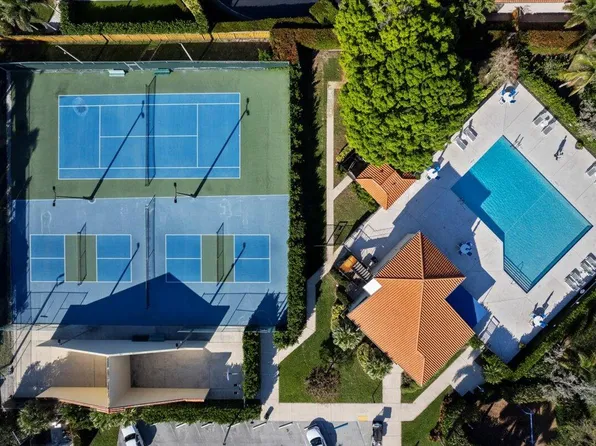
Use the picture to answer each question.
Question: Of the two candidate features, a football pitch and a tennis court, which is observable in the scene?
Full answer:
This aerial view contains a tennis court.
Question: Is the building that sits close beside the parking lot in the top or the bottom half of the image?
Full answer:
The bottom half of the photo is where the building that sits close beside the parking lot is.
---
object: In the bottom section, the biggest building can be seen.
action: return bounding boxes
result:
[347,231,476,388]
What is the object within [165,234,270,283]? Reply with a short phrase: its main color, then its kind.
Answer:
blue sports court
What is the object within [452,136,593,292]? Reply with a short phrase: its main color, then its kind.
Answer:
blue swimming pool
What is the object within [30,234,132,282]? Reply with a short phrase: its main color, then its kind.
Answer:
blue sports court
